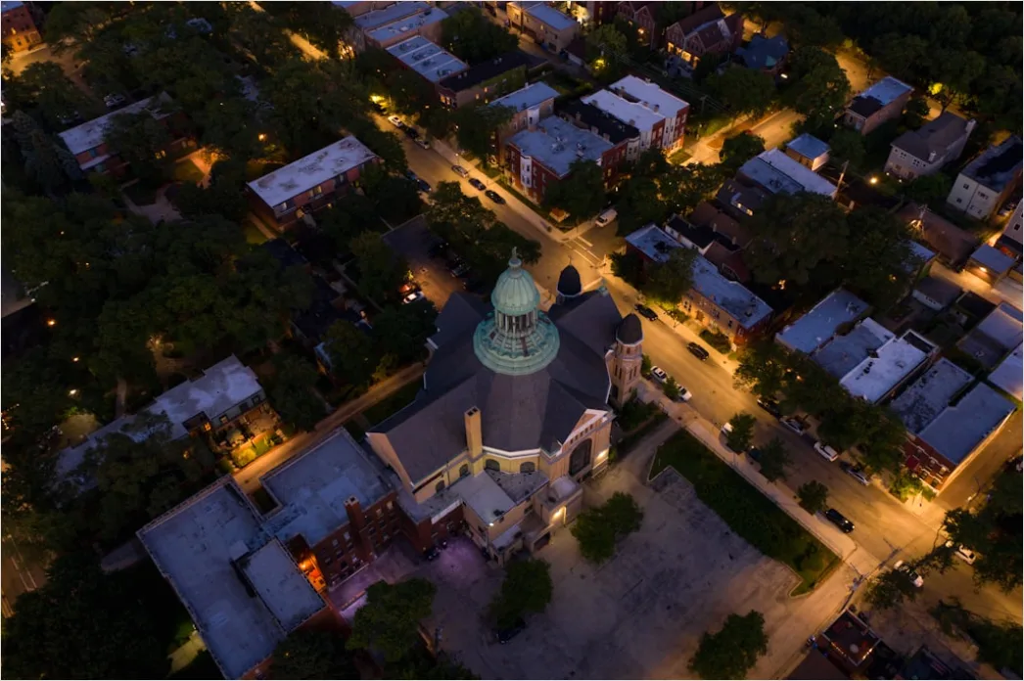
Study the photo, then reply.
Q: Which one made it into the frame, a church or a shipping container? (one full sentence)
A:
Visible in the photo is a church.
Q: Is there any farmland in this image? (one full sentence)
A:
No, farmland can't be seen anywhere here.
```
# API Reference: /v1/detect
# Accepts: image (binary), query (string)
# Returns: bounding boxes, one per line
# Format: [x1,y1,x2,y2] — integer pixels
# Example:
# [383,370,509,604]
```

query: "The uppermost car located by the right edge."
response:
[996,207,1014,222]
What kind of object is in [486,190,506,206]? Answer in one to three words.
car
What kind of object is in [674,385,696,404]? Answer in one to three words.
car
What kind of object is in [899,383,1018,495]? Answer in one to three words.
building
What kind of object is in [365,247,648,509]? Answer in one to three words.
church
